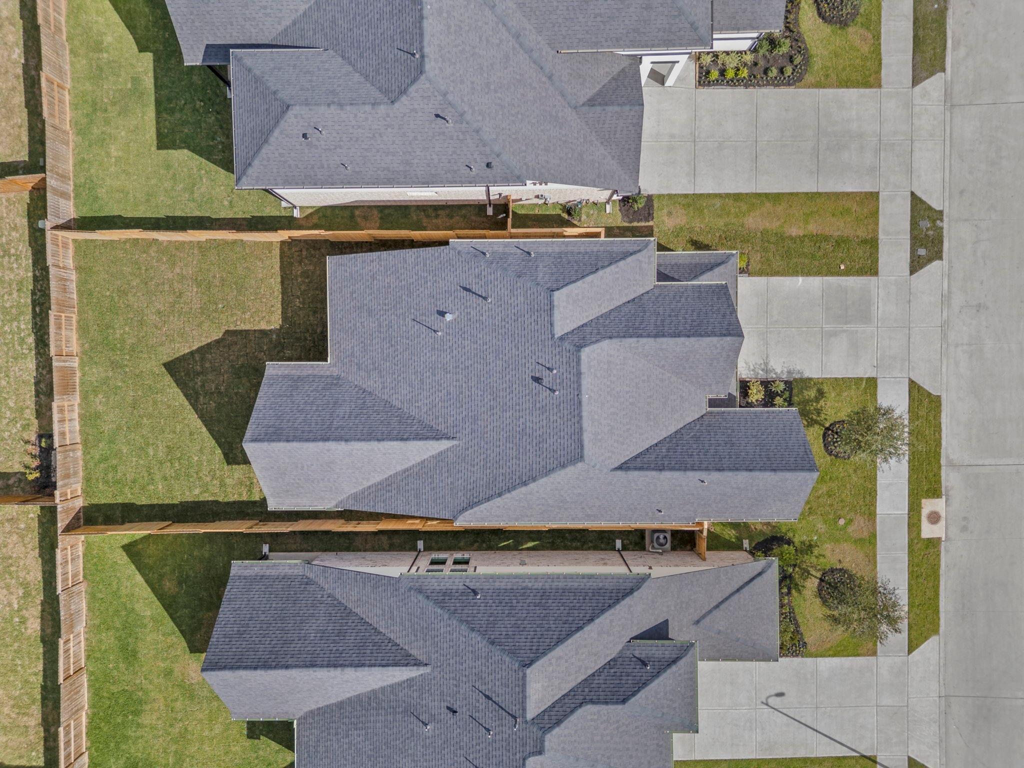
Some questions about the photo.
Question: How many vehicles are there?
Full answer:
There are no vehicles in the image.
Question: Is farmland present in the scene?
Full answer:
No, the picture contains no farmland.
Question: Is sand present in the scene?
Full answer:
No, there is no sand in the image.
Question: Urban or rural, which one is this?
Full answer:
The land in this view is best described as urban.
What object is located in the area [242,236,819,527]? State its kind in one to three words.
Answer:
house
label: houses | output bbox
[201,547,782,768]
[165,0,785,213]
[242,236,819,527]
